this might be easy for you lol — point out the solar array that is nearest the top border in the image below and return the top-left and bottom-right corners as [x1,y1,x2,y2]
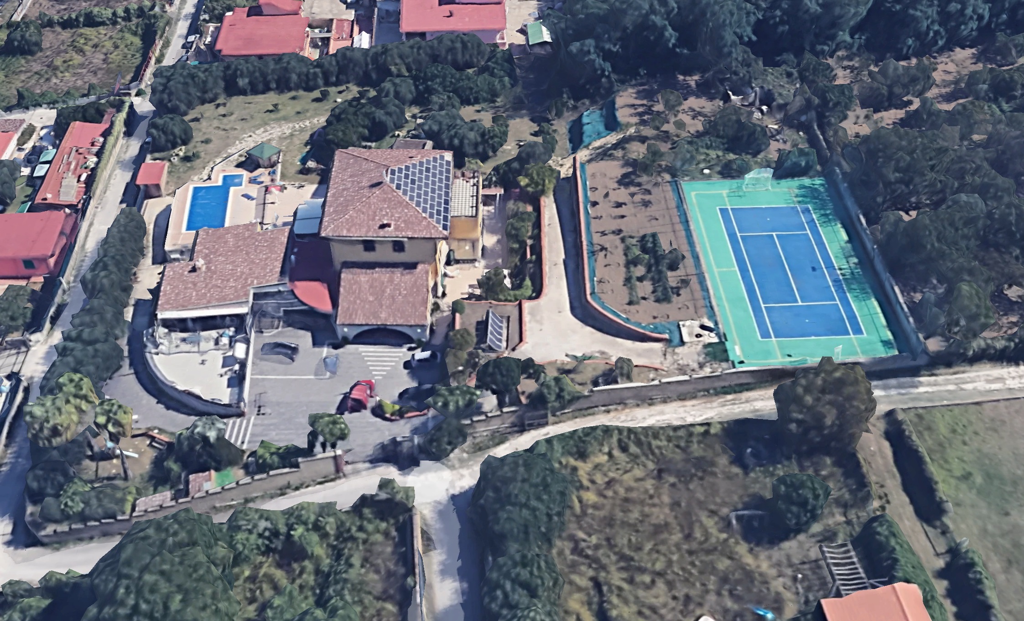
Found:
[391,153,452,229]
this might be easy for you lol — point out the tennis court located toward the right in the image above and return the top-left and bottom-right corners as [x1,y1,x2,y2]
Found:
[681,177,905,368]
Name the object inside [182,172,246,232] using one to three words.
swimming pool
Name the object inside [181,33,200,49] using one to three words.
car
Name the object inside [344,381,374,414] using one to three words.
car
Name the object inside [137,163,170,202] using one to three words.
shed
